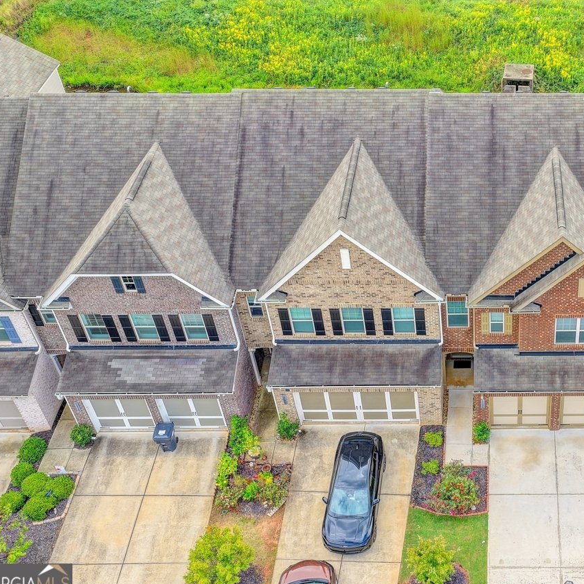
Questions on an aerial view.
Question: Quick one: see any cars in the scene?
Yes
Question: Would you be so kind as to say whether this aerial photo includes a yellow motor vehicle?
No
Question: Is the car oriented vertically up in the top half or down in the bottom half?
bottom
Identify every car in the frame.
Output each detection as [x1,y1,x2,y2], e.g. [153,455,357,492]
[283,564,338,584]
[320,429,384,552]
